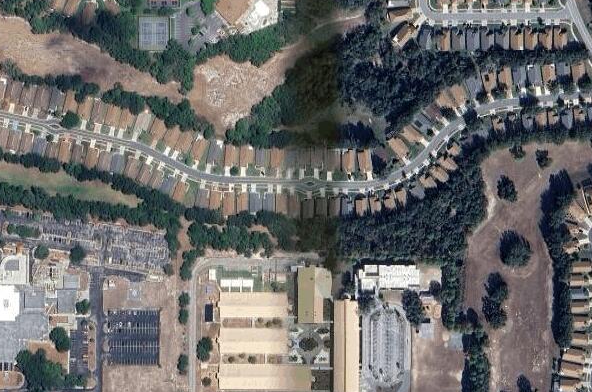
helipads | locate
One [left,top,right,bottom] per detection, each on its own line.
[128,284,142,300]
